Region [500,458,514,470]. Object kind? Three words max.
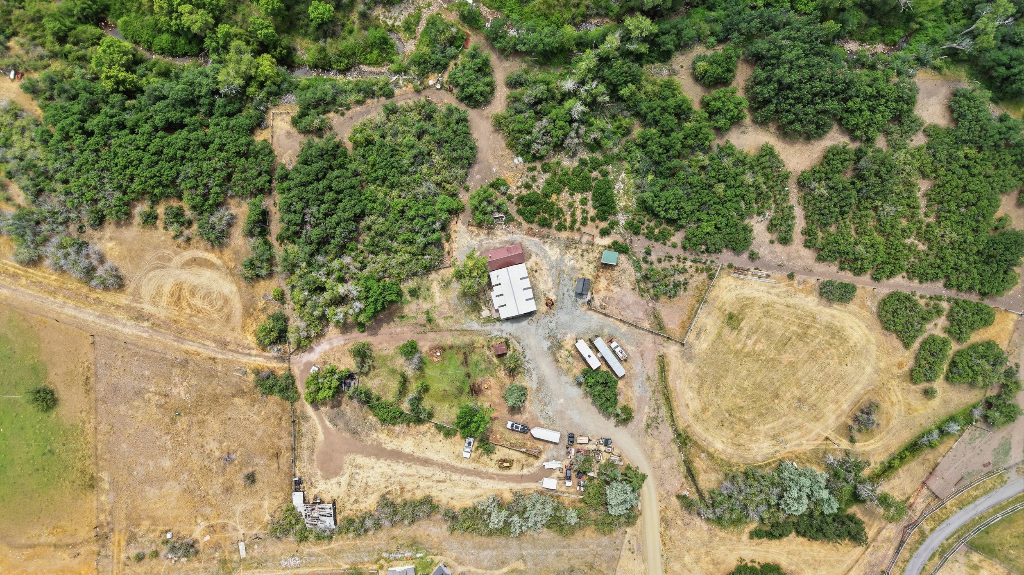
vehicle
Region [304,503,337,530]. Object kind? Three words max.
barn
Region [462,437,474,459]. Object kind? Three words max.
vehicle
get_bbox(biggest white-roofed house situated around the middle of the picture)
[490,263,537,319]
